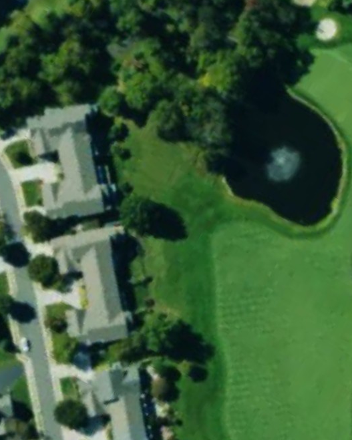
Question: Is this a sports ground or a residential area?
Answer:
residential area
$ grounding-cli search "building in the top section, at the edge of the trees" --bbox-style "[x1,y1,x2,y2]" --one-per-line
[28,103,113,221]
